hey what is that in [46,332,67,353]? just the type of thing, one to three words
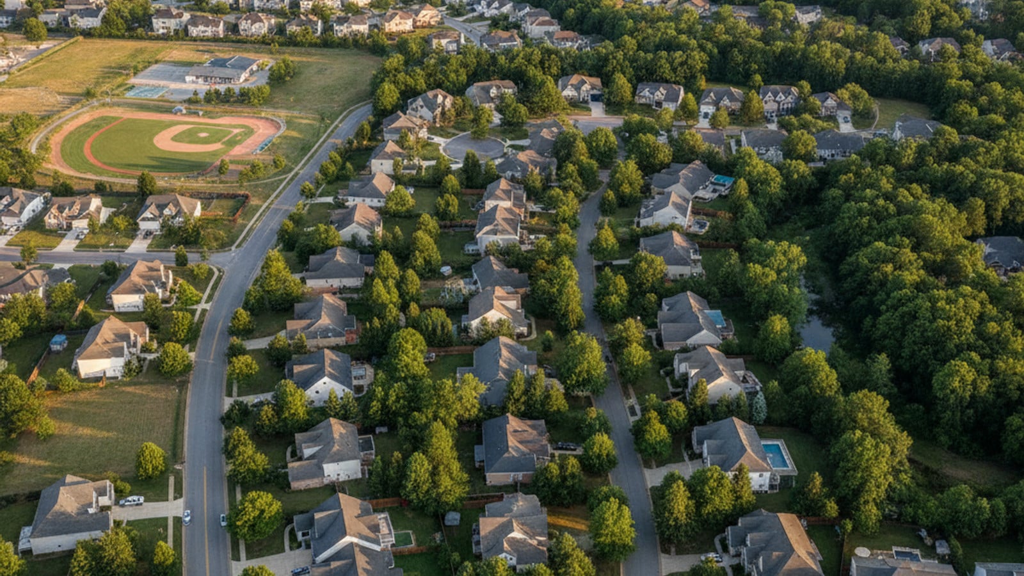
shed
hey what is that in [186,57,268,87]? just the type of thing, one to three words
building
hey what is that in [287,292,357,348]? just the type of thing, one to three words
house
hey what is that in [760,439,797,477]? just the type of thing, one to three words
swimming pool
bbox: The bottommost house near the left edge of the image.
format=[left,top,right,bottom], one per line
[31,470,125,549]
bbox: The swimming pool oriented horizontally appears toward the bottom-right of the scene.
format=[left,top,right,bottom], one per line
[892,547,921,559]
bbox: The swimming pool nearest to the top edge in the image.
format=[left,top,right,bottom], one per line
[710,176,735,189]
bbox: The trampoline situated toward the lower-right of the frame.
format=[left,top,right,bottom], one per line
[852,545,872,560]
